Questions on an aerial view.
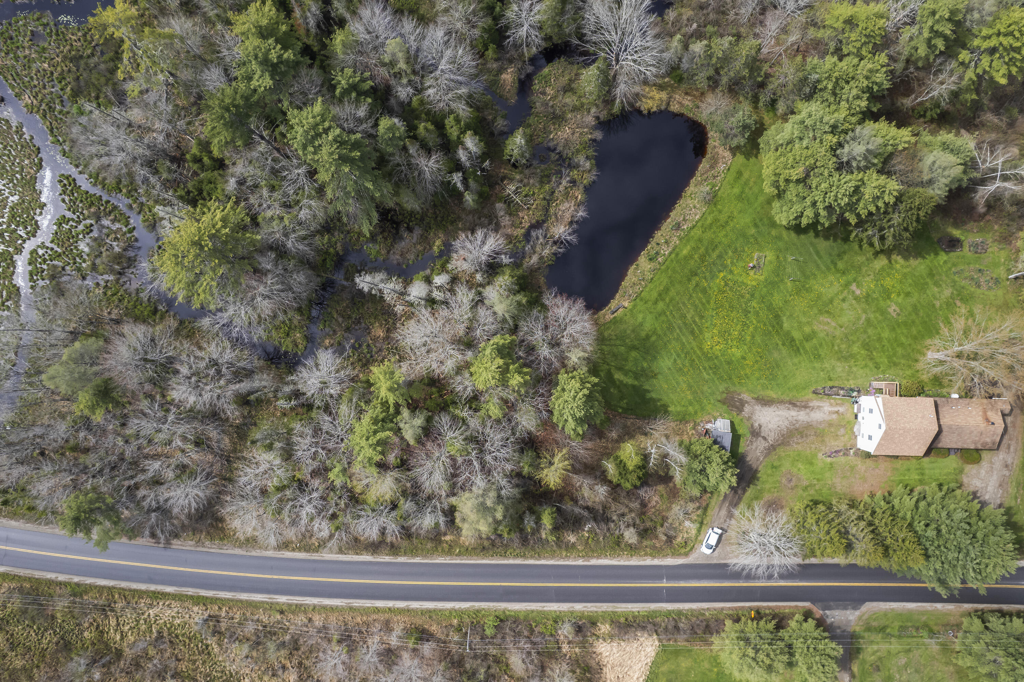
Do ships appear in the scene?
No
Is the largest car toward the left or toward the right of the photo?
right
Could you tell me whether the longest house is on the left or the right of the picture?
right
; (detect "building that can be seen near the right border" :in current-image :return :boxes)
[858,381,1014,456]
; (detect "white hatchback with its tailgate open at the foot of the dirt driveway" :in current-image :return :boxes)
[704,529,725,556]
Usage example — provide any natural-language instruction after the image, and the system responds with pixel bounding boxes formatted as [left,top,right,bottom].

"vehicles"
[851,395,860,404]
[704,529,725,556]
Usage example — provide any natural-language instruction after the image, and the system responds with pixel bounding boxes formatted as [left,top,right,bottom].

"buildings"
[707,429,733,454]
[858,381,1014,456]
